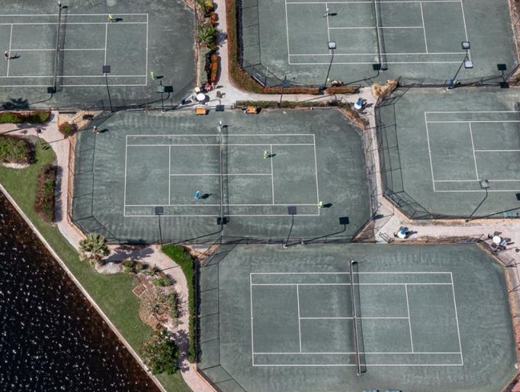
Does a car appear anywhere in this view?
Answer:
No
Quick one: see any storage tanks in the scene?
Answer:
No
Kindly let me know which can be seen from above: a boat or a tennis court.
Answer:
tennis court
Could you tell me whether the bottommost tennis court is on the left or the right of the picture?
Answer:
right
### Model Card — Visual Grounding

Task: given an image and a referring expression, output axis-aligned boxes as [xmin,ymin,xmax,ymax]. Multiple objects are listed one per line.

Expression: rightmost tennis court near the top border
[238,0,520,87]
